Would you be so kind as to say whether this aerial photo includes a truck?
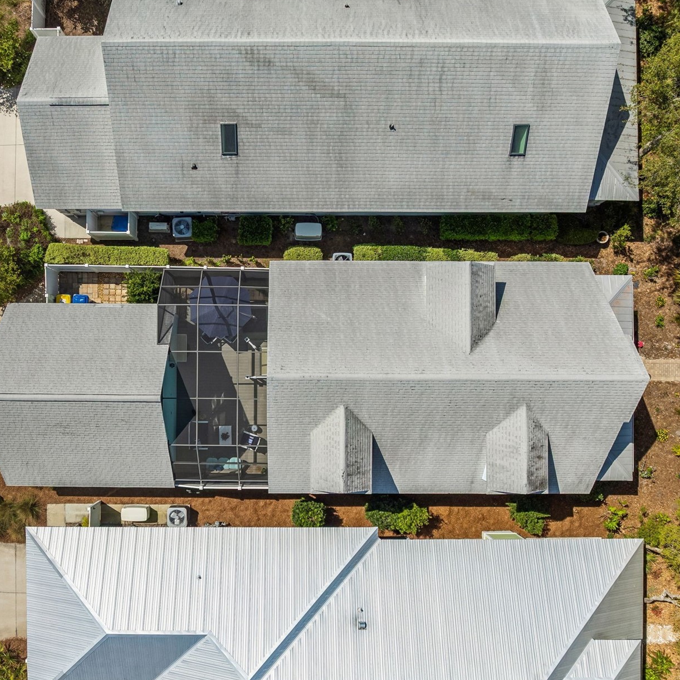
No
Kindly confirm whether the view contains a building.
Yes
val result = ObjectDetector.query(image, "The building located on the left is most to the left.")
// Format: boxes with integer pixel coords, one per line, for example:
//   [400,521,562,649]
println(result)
[0,307,177,489]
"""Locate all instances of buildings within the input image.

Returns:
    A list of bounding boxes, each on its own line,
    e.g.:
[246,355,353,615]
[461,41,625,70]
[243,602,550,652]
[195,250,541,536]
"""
[25,526,646,680]
[267,261,649,494]
[17,0,640,226]
[0,307,177,489]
